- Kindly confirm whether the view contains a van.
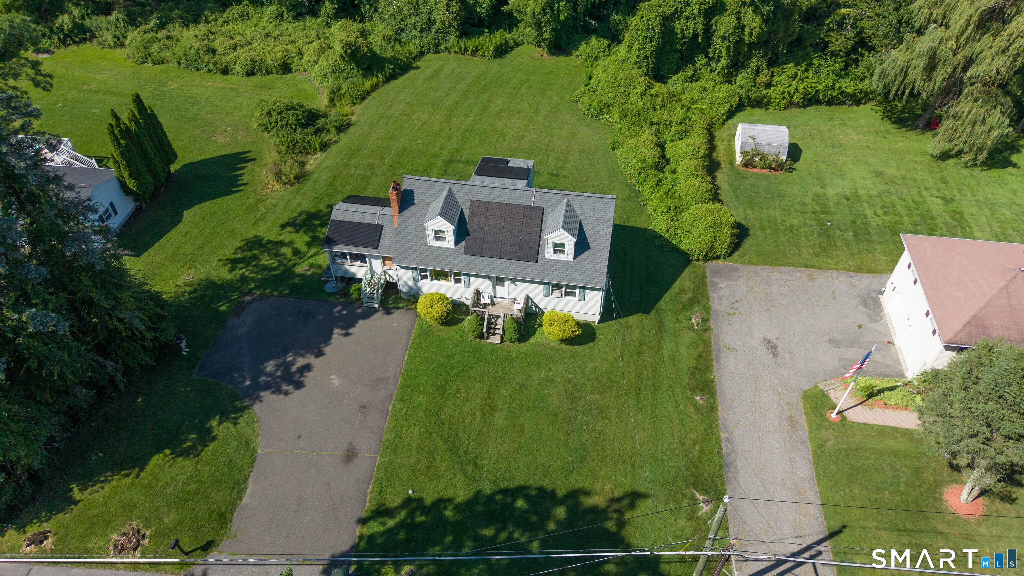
No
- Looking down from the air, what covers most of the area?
grass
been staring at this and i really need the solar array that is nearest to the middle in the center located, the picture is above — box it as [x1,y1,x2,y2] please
[464,202,543,262]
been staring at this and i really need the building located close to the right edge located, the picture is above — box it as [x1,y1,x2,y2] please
[875,232,1024,382]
